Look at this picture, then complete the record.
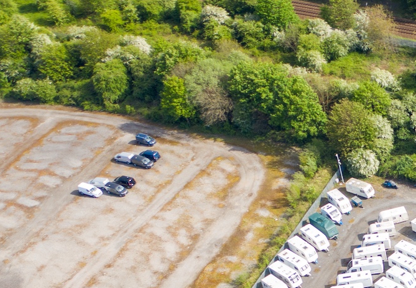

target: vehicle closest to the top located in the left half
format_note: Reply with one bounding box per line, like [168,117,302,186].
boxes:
[135,132,157,146]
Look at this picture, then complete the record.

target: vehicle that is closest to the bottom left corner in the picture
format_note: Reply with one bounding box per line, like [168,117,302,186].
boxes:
[78,183,103,198]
